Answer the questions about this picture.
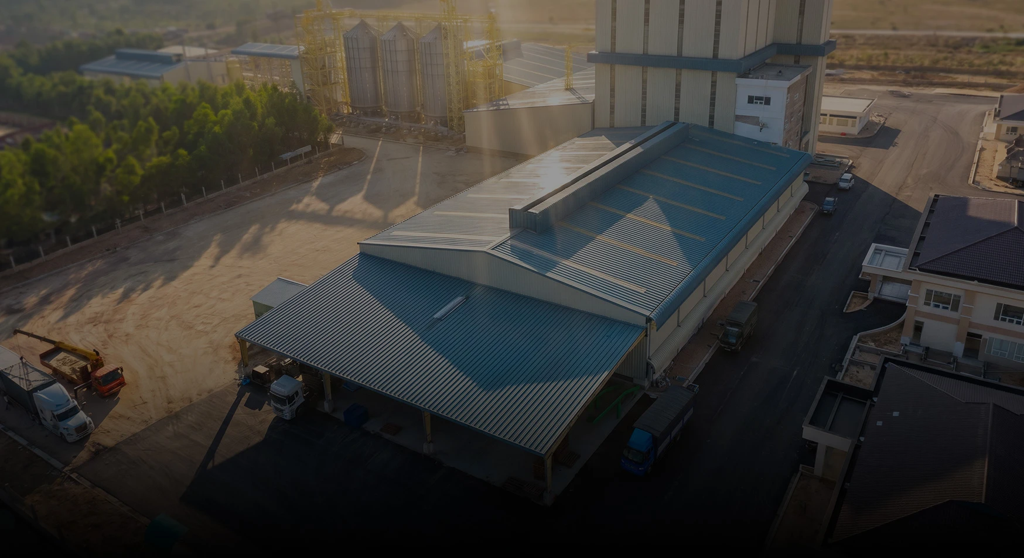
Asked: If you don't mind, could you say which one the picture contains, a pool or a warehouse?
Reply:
warehouse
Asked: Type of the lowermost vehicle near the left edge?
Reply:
truck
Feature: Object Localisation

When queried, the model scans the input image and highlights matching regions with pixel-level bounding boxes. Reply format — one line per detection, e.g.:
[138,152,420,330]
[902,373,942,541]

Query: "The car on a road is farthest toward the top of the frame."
[838,173,853,188]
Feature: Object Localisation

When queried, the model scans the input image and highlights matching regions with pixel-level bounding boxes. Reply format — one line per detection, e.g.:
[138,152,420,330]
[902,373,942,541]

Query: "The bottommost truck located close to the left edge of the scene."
[27,380,93,440]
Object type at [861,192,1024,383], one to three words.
house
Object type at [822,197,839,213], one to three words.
vehicle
